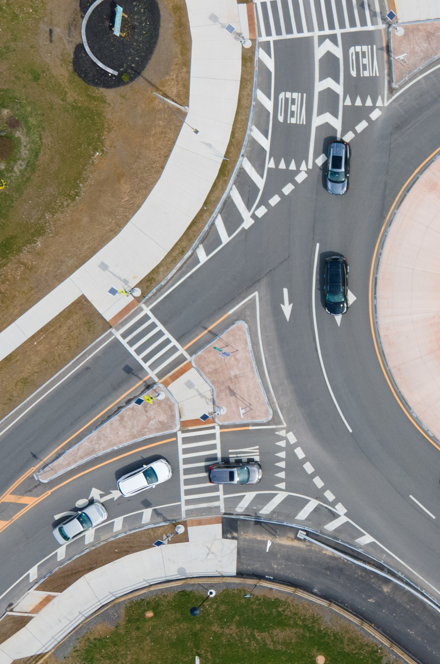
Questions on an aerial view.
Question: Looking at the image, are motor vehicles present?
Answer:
Yes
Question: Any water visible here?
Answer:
No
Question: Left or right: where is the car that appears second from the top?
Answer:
right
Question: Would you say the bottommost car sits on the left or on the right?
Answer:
left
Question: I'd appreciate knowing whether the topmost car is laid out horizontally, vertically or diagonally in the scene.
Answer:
vertically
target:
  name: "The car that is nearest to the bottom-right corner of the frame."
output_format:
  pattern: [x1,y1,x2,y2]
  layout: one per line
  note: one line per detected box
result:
[206,459,264,488]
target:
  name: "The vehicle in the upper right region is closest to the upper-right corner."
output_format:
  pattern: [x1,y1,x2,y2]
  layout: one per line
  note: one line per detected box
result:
[323,140,352,196]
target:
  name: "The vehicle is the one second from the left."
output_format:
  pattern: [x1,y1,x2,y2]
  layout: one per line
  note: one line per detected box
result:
[116,458,175,498]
